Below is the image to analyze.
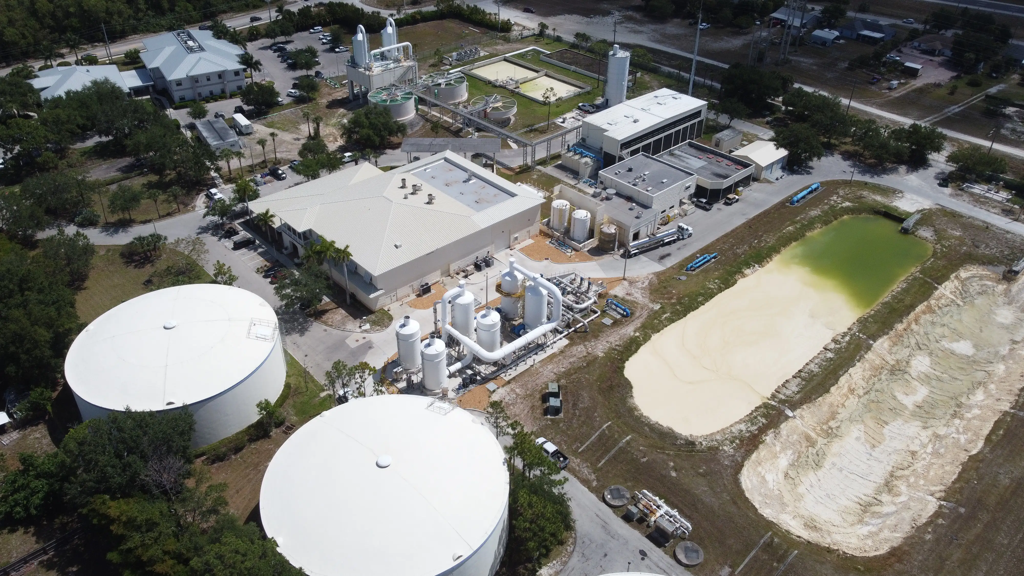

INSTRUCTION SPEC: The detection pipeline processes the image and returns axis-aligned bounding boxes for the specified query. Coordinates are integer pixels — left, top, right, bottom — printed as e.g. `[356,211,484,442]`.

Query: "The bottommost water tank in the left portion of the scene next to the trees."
[259,389,510,576]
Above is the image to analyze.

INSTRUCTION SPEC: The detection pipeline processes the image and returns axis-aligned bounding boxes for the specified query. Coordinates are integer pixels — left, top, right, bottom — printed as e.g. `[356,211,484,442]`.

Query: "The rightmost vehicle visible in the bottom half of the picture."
[538,434,569,464]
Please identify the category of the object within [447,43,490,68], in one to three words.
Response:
building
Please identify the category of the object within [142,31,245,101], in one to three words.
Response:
building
